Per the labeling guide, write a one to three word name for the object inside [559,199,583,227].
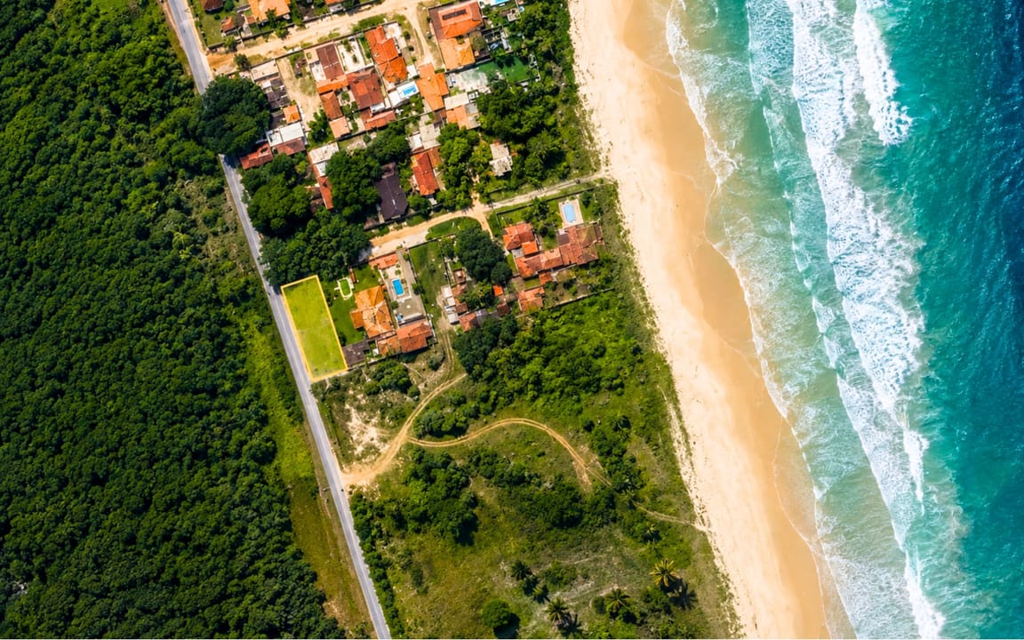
swimming pool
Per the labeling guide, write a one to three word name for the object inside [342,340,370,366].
shed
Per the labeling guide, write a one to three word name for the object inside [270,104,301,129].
house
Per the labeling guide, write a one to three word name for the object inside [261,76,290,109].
building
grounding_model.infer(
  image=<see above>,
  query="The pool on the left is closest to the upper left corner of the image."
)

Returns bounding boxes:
[389,82,419,107]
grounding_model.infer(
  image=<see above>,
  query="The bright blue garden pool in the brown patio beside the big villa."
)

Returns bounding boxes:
[389,274,410,301]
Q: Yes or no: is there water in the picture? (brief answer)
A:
Yes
